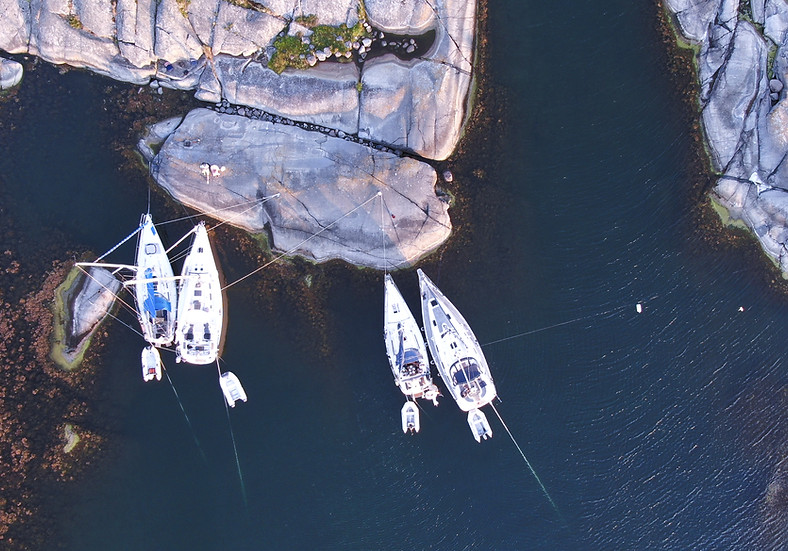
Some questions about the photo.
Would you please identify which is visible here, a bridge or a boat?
boat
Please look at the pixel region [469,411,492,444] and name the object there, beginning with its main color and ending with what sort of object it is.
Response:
white boat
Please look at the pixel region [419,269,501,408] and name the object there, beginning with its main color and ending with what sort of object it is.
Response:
white boat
